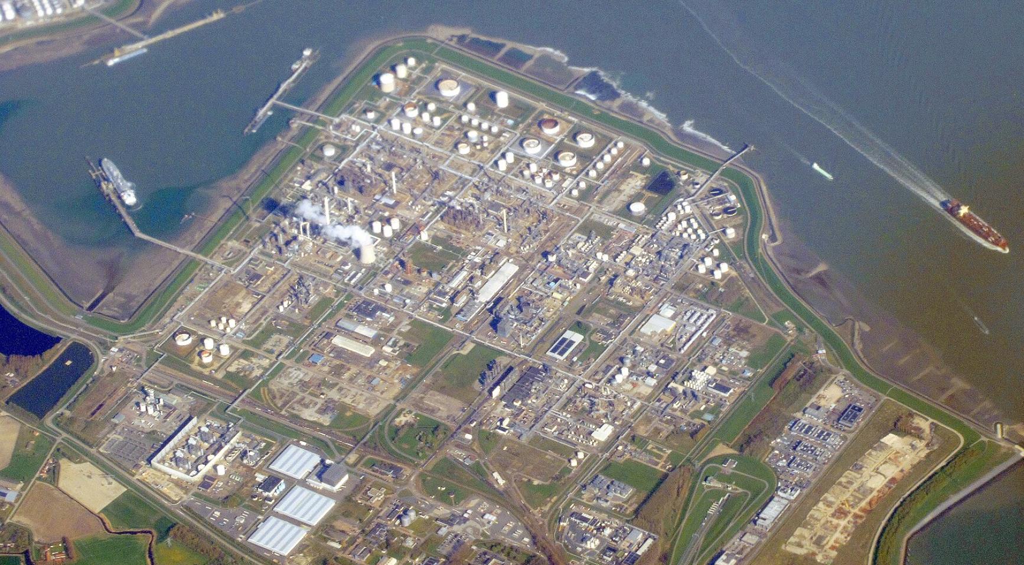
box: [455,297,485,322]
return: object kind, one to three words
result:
building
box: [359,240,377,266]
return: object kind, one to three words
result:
cooling tower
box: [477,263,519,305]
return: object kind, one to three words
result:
building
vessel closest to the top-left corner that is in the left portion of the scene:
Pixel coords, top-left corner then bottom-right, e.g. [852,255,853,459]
[108,51,147,65]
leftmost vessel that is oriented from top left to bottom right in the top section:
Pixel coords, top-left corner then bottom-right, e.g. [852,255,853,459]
[99,158,141,207]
